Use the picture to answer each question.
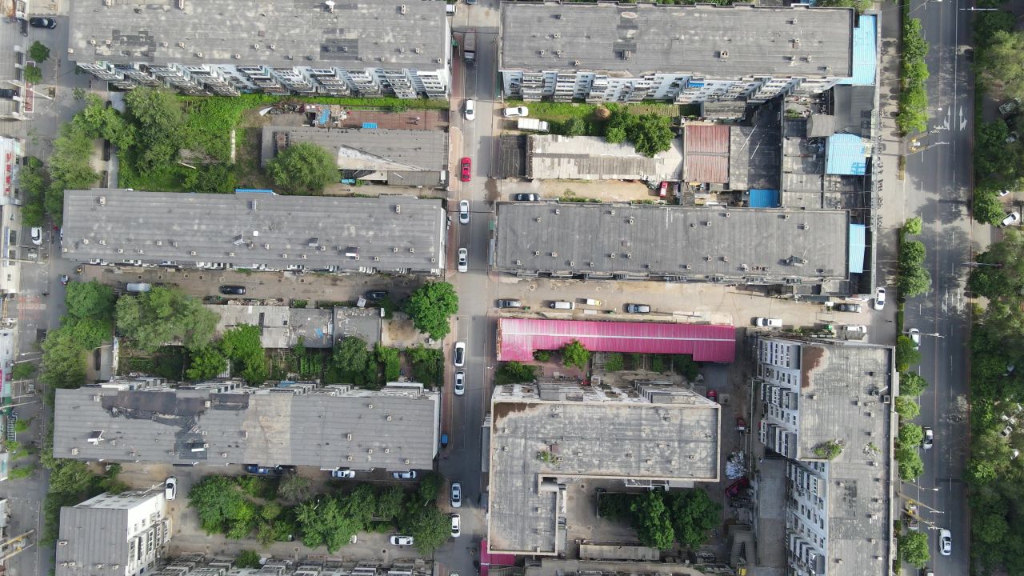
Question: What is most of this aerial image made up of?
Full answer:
What you mostly see from above here is buildings.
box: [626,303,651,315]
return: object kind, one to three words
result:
vehicle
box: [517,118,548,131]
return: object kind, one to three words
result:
vehicle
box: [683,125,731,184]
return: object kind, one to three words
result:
shed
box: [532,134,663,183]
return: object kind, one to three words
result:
building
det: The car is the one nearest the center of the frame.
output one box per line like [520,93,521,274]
[497,298,521,310]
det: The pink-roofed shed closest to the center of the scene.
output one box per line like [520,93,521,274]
[496,318,736,362]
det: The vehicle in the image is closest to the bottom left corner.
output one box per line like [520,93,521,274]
[164,478,177,500]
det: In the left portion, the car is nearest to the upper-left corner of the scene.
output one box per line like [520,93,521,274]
[31,16,57,28]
